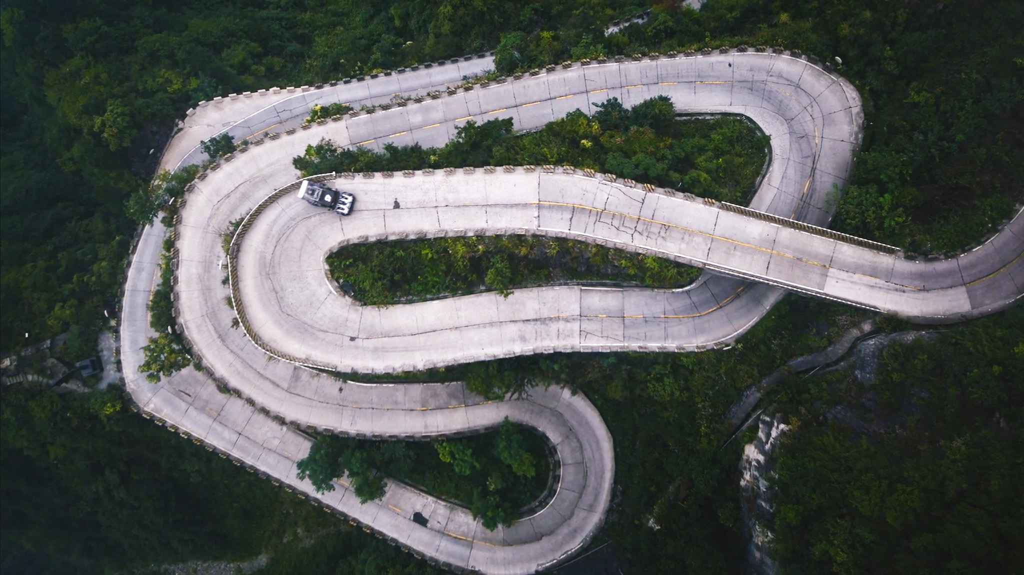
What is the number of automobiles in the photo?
1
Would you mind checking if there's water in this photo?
No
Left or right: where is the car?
left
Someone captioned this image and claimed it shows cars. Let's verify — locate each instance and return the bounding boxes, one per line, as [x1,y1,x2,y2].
[294,177,355,214]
